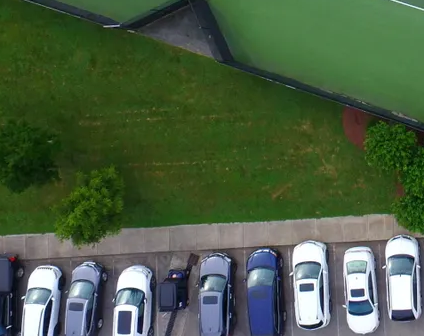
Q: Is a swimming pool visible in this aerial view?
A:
No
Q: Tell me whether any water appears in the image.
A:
No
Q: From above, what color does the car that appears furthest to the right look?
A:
white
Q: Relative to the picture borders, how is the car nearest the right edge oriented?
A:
vertically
